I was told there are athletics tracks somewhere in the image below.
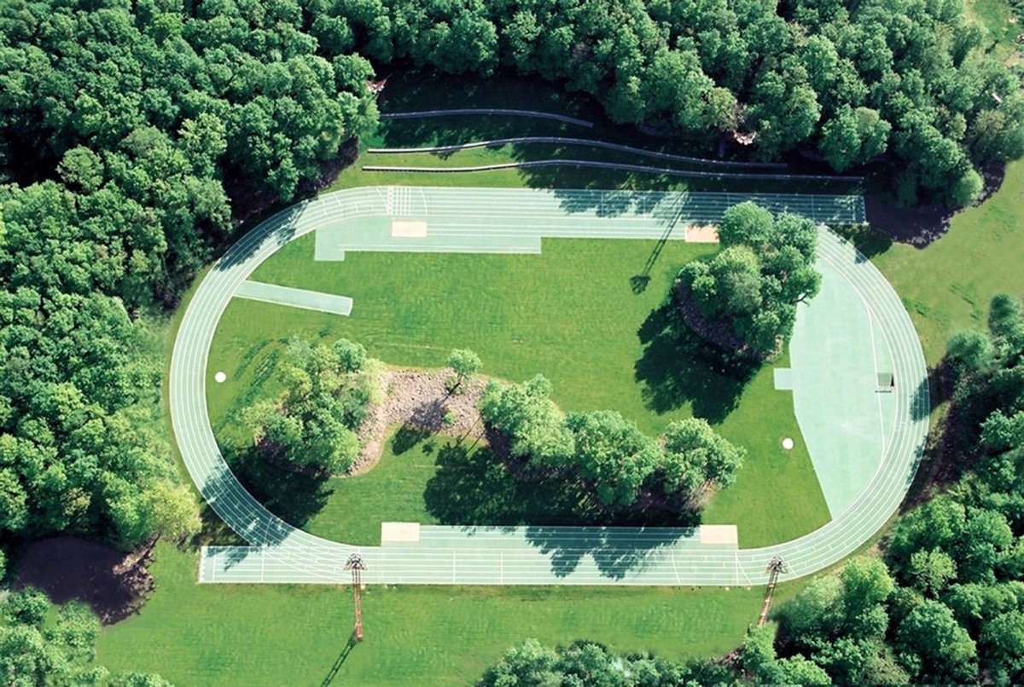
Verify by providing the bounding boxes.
[169,185,930,585]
